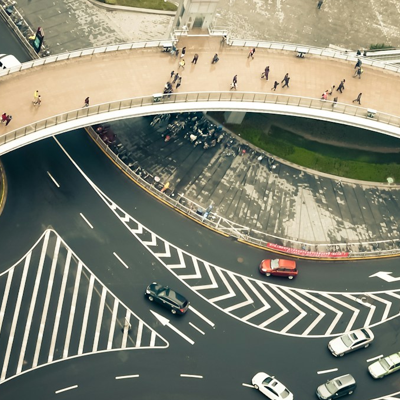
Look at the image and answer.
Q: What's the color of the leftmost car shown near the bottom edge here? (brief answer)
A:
white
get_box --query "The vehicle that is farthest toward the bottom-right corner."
[367,350,400,379]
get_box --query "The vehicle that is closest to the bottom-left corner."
[143,282,192,315]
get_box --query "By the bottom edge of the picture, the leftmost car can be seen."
[249,371,296,400]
